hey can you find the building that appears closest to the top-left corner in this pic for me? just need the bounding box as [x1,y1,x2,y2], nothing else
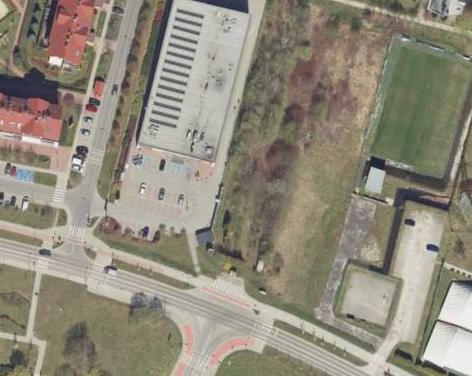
[46,0,99,73]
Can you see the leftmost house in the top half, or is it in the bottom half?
top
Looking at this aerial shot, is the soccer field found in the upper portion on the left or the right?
right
